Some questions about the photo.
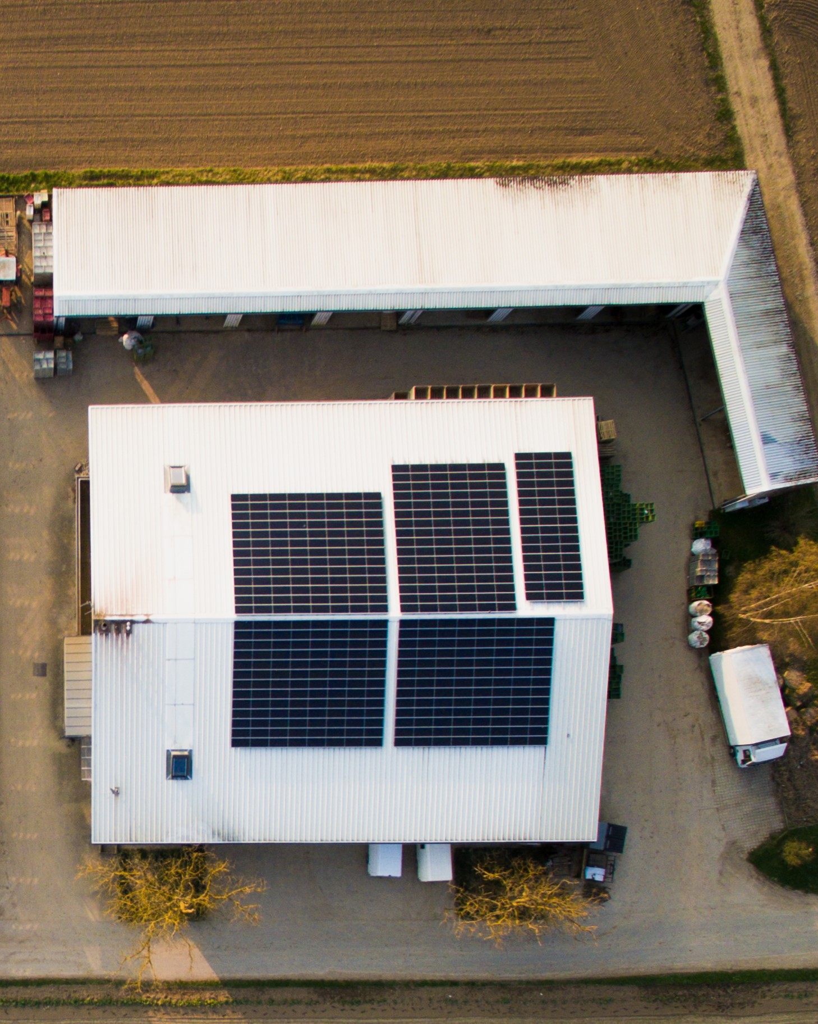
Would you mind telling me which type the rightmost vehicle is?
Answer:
truck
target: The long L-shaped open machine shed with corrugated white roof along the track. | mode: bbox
[52,169,818,511]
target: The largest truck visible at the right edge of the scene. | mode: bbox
[707,645,785,770]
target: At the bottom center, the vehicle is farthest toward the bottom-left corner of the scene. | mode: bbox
[365,843,399,875]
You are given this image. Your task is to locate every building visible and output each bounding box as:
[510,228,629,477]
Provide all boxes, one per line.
[52,169,818,511]
[88,395,614,844]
